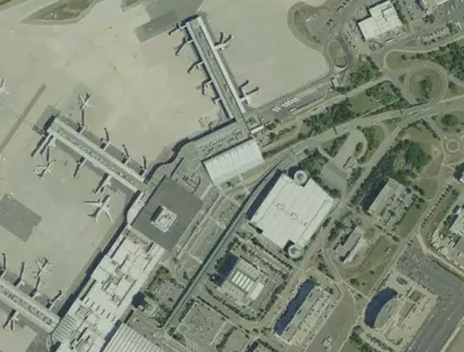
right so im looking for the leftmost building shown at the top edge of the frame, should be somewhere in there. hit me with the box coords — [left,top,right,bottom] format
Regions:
[358,0,402,39]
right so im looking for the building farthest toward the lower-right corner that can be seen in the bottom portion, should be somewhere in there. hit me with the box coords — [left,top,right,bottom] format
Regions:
[375,292,420,333]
